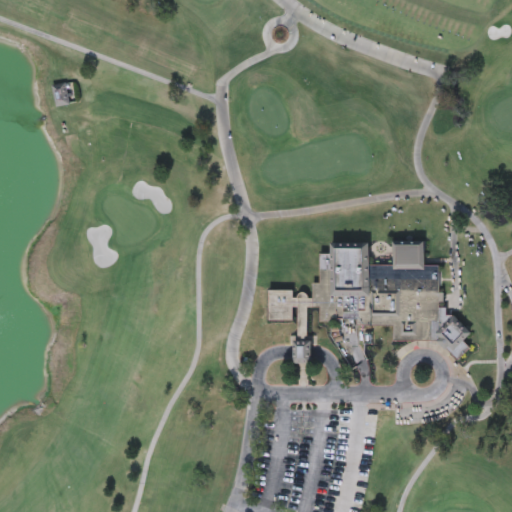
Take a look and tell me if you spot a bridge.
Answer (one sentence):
No, there's no bridge here.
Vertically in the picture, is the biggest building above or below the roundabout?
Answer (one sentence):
As seen from overhead, the biggest building falls below the roundabout in the picture.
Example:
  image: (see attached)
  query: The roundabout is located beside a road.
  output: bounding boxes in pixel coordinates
[263,12,299,52]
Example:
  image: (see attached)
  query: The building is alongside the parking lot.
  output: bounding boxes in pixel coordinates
[268,242,470,364]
